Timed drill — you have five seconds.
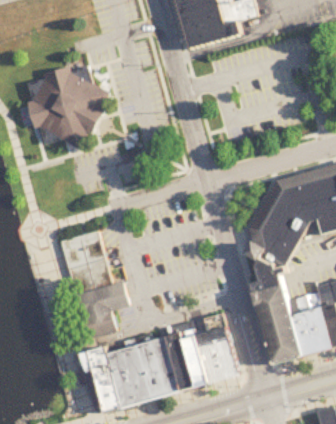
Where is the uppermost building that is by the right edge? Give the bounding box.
[250,163,336,270]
